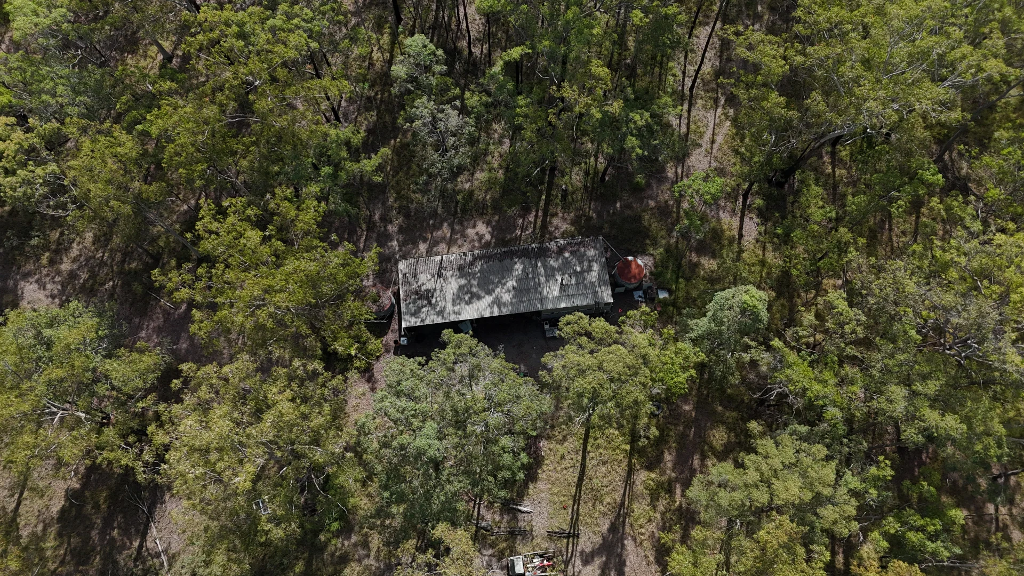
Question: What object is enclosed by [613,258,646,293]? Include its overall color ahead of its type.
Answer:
red water tank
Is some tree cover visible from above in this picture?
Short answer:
Yes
